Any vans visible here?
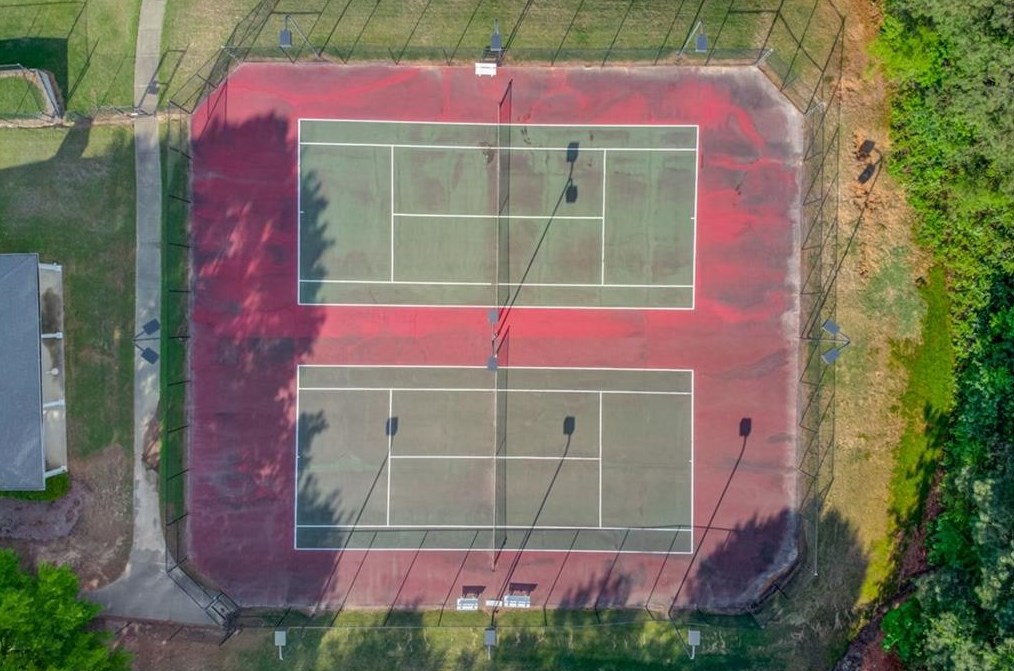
No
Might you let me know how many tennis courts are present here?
two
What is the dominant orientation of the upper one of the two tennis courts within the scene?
from left to right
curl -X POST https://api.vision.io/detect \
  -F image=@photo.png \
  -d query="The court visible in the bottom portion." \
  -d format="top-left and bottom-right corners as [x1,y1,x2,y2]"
[294,365,694,554]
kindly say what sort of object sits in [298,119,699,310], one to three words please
tennis court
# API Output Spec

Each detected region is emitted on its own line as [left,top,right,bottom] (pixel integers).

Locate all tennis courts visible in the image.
[294,365,694,554]
[298,119,699,310]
